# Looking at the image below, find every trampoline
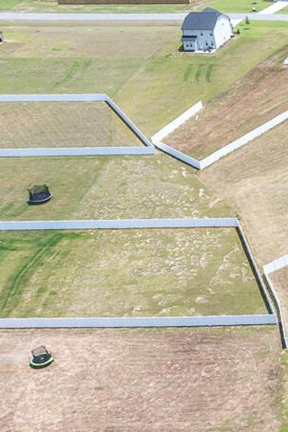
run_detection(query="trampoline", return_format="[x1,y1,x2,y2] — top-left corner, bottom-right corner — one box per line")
[24,182,49,202]
[20,341,55,368]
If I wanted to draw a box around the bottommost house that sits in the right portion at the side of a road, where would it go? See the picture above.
[175,7,235,53]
